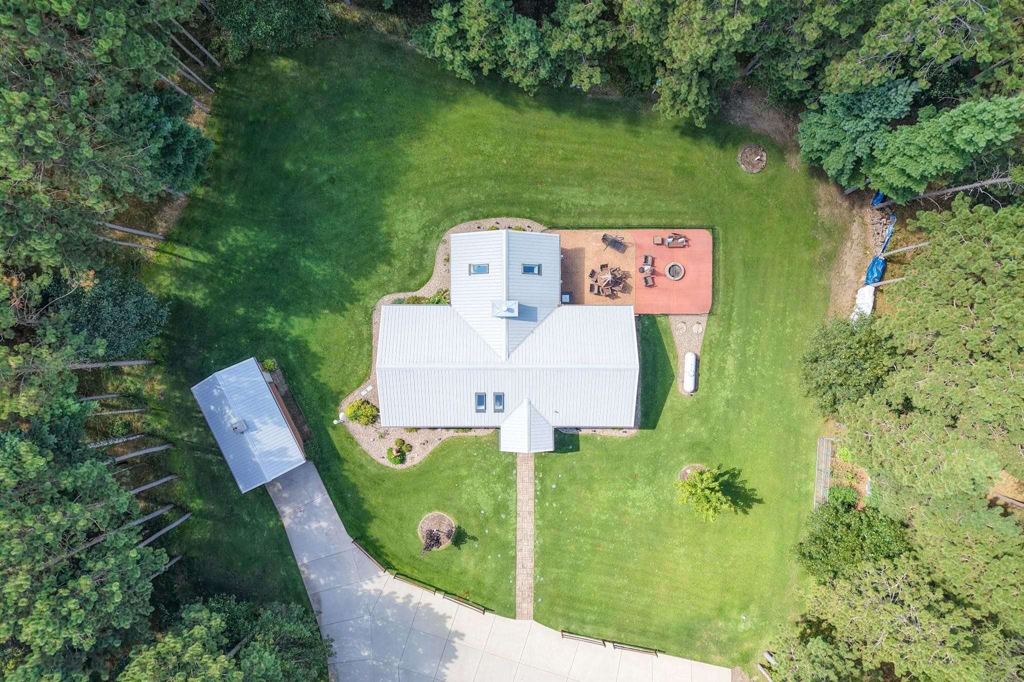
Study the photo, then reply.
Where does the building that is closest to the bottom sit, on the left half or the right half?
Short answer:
left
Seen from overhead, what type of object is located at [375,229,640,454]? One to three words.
house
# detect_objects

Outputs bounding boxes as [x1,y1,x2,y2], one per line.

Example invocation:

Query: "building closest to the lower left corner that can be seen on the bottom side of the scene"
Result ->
[190,357,308,494]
